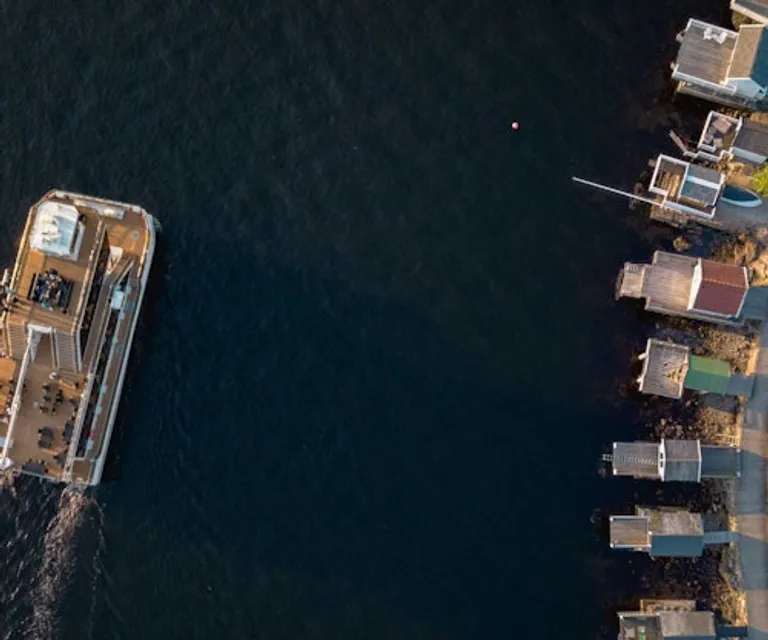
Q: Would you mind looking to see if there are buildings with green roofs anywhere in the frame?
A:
Yes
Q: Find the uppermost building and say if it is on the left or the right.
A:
right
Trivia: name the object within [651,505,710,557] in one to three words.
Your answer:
building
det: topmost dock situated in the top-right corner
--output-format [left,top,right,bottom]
[664,83,730,116]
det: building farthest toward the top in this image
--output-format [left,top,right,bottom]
[724,25,768,99]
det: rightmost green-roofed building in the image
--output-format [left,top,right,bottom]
[680,355,729,394]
